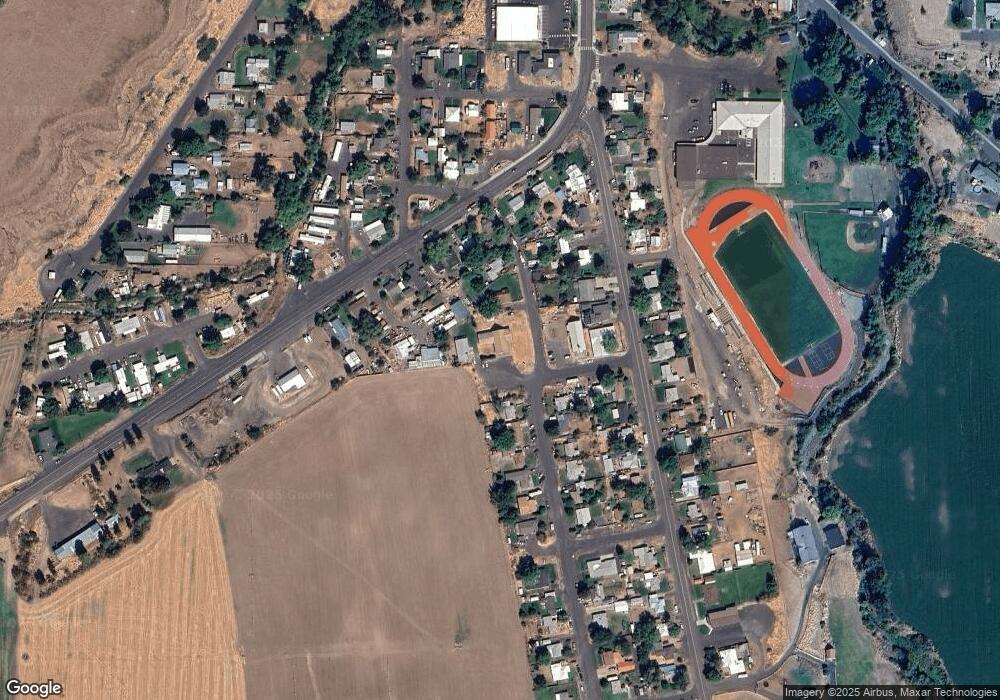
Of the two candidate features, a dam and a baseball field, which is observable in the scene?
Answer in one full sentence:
The image shows a baseball field.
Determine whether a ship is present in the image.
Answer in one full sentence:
No, no ship is visible in the view.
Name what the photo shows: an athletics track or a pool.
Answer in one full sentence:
It is an athletics track that can be seen here.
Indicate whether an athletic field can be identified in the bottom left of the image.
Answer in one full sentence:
No, looking in the bottom left of the image, there is no athletic field.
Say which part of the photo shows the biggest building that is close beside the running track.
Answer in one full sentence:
The biggest building that is close beside the running track appears toward the top right of the photo.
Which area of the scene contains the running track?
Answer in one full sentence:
The running track is in the right part of the image.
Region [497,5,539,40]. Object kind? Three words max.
building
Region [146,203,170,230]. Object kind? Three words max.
house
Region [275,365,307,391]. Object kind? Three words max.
barn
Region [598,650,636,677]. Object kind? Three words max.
house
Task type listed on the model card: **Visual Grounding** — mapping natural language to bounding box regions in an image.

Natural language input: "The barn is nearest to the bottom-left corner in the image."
[51,519,104,557]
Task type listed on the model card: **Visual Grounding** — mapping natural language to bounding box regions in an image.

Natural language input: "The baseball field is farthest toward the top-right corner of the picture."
[805,212,881,280]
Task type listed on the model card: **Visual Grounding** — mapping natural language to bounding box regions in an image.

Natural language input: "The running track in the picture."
[683,188,854,411]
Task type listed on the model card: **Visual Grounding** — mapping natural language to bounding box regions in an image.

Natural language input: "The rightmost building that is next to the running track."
[716,101,784,184]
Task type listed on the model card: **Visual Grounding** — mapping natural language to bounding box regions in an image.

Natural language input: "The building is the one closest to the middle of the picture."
[478,330,513,357]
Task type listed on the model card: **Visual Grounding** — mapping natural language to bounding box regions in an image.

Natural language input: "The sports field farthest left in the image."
[715,210,840,364]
